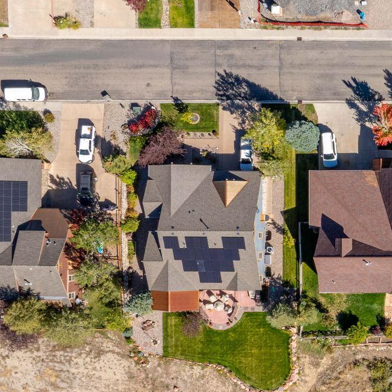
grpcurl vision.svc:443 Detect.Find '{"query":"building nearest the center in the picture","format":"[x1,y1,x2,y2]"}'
[139,165,266,314]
